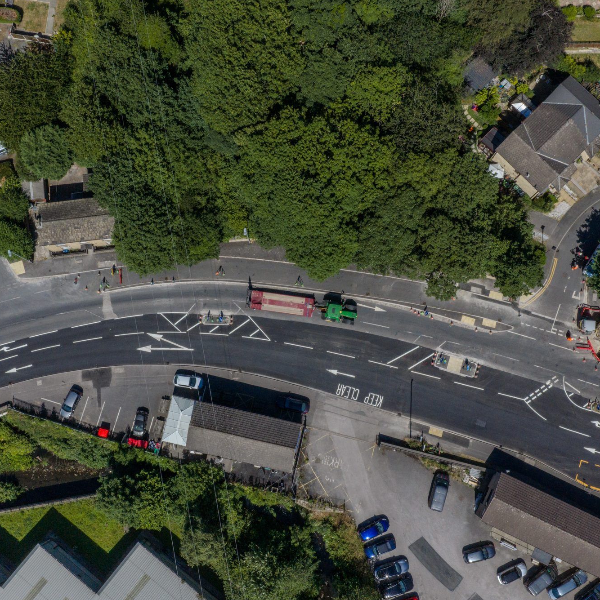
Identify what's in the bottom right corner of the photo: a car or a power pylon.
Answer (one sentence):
What appears in the bottom right corner of the photo is a car.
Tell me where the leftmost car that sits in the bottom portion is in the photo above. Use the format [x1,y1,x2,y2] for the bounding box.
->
[59,388,81,420]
